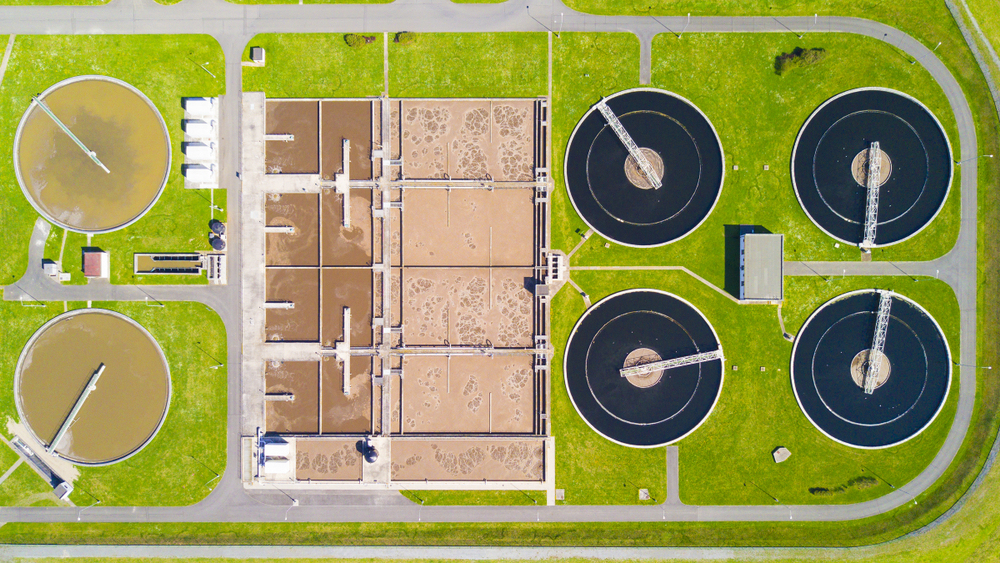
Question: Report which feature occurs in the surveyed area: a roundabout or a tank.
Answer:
tank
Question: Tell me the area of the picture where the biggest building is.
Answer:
right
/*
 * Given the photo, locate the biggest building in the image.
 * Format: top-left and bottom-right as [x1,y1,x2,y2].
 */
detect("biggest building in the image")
[740,234,784,300]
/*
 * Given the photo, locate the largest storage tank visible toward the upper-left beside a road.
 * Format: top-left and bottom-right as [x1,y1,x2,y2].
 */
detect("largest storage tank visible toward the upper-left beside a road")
[13,74,173,232]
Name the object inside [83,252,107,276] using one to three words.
house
